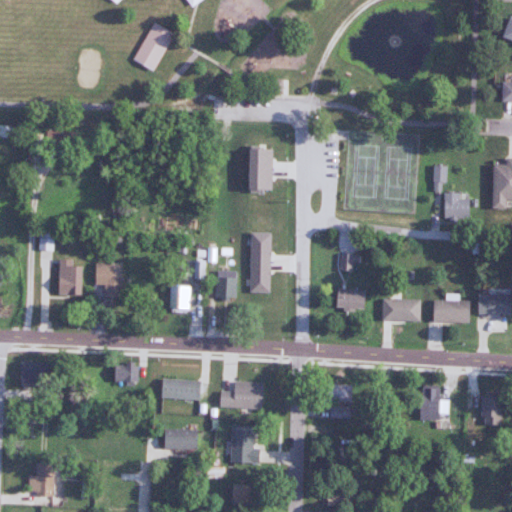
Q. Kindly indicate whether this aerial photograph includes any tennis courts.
Yes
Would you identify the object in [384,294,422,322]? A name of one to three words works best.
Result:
house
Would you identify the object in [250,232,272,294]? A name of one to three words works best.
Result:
building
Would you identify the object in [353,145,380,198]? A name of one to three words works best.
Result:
tennis court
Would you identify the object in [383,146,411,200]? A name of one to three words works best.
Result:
tennis court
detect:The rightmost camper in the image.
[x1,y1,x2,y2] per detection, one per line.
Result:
[489,320,508,332]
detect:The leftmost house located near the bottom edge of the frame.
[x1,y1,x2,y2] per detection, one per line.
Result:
[28,466,56,498]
